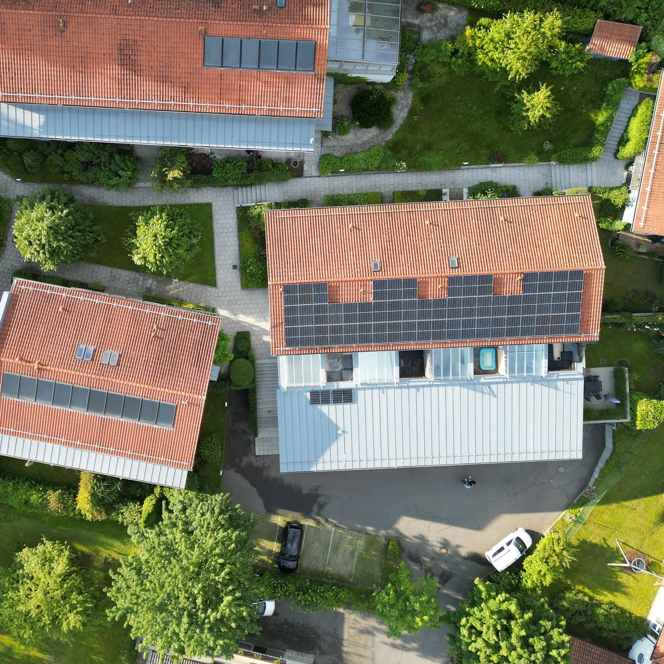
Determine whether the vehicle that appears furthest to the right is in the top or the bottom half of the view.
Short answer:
bottom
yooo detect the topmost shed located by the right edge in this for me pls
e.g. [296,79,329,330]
[585,18,643,61]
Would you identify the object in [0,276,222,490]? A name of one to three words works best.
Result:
house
